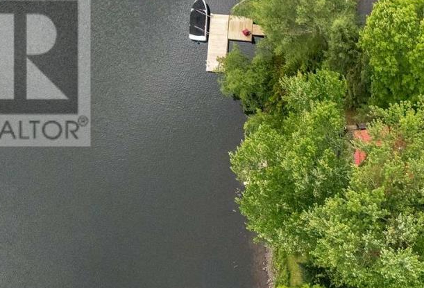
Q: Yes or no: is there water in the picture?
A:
Yes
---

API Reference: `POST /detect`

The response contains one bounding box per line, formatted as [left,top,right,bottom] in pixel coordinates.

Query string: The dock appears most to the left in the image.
[207,13,230,71]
